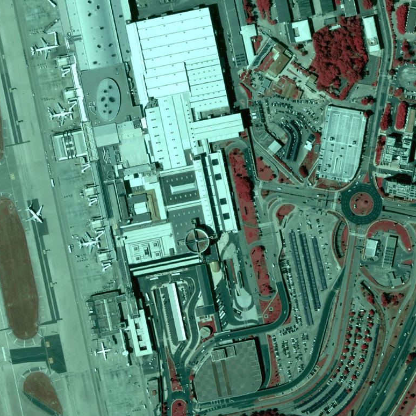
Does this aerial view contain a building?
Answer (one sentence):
Yes, there's a building down there.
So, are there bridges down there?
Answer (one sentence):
Yes, the image includes a bridge.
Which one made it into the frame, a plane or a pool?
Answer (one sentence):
It is a plane that can be seen here.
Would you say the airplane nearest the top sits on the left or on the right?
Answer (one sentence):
It is on the left.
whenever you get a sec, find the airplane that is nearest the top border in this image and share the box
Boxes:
[31,38,59,60]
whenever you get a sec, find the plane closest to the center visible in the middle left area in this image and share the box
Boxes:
[79,233,100,255]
